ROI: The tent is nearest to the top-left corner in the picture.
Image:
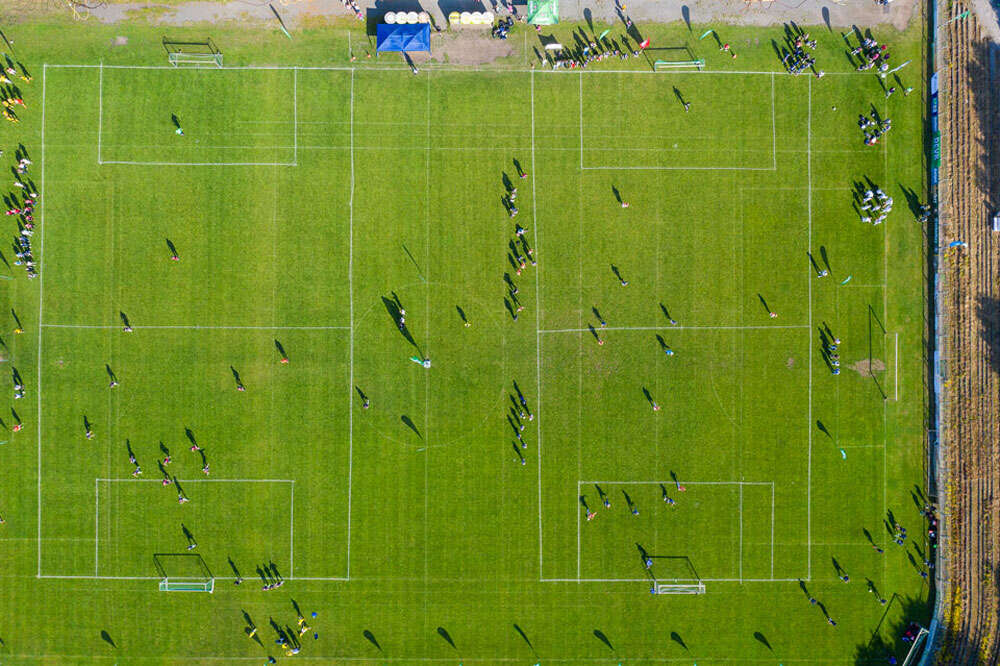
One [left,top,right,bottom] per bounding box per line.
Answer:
[377,23,432,58]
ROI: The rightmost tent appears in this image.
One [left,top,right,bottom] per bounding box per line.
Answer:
[527,0,559,31]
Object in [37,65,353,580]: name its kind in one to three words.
soccer field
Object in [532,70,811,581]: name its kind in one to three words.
soccer field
